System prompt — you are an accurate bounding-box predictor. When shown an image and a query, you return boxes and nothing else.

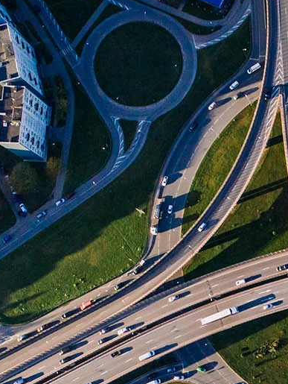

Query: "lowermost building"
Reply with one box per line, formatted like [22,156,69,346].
[0,84,50,160]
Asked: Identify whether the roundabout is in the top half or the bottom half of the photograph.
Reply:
top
